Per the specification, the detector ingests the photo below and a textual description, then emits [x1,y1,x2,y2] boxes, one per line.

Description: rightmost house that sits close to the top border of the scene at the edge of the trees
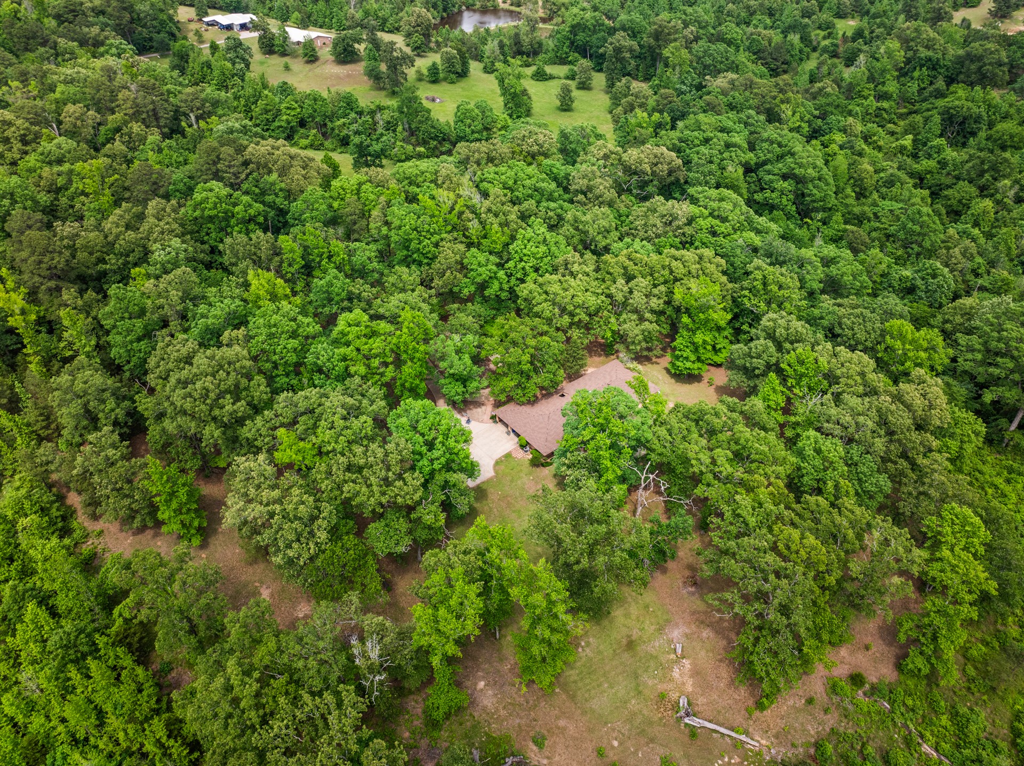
[283,29,333,47]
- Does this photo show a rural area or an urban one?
rural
